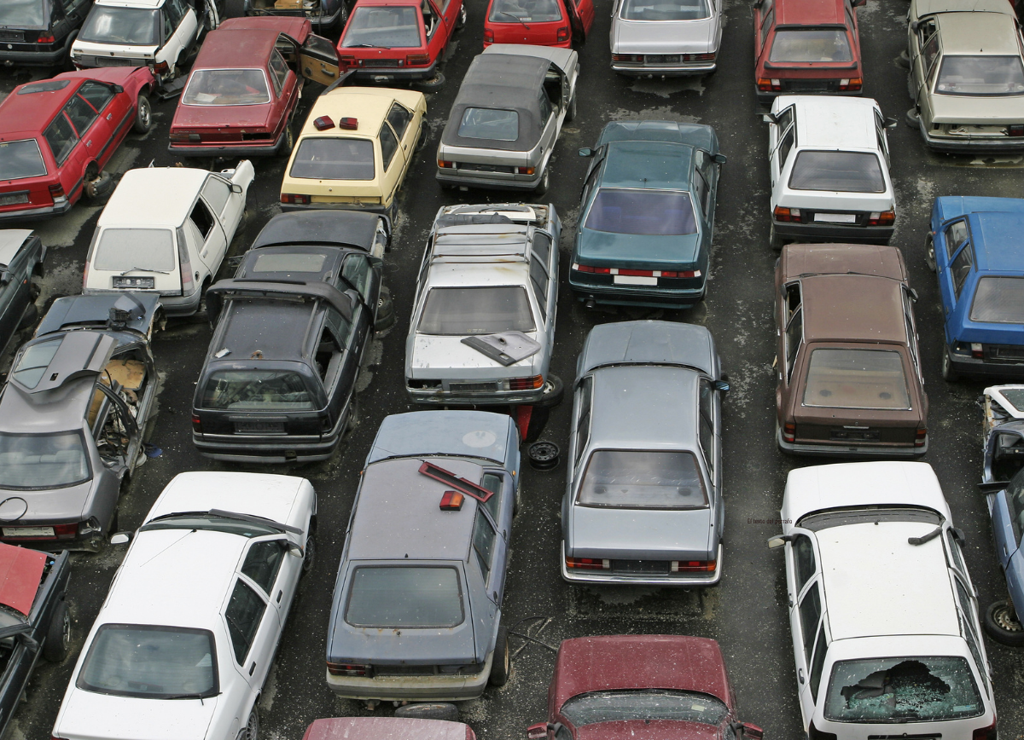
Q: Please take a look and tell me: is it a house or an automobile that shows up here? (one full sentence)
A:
Visible in the photo is an automobile.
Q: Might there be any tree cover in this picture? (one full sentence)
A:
No, there's no tree cover in this view.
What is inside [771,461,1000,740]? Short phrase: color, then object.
white car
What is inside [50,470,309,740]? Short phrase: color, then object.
white car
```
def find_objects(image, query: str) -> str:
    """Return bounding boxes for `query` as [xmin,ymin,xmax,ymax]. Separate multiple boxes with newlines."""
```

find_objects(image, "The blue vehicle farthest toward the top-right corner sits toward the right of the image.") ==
[934,193,1024,385]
